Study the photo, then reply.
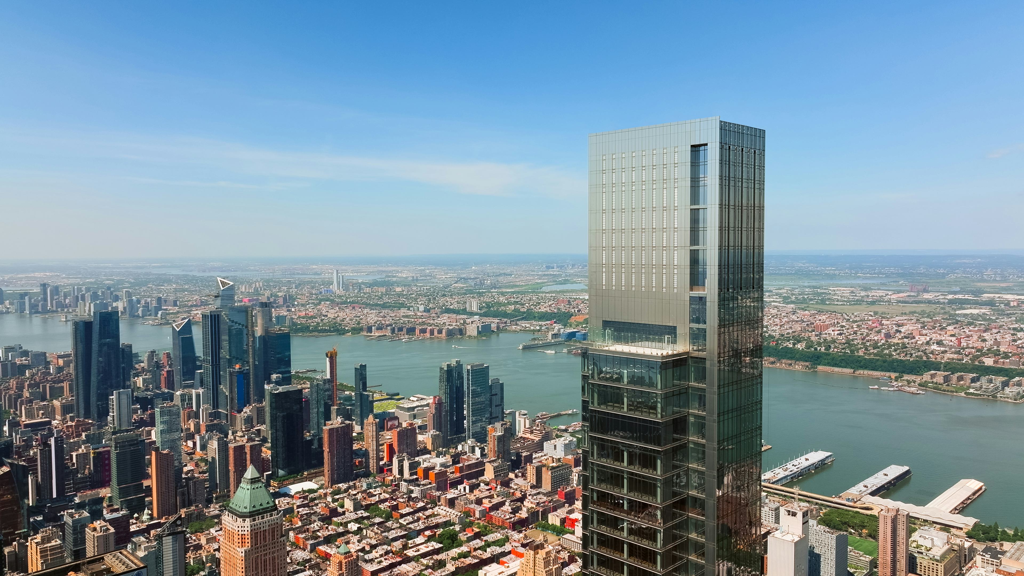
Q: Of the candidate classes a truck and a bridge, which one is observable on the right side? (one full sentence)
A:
You can see a bridge on the right side.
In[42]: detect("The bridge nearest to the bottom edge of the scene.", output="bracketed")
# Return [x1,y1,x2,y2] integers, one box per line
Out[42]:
[760,481,883,516]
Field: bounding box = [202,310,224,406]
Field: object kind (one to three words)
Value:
building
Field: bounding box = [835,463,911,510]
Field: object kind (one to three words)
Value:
pier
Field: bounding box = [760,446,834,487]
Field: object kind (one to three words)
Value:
pier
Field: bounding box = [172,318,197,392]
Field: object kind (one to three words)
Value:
building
